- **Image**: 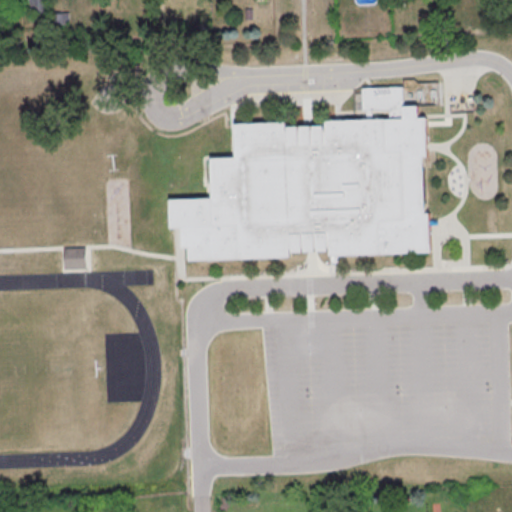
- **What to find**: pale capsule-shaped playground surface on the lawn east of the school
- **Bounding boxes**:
[468,143,498,200]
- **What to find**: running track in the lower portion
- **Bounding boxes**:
[0,270,162,469]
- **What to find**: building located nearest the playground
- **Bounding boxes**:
[168,86,438,263]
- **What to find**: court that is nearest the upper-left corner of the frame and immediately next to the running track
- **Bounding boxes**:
[106,178,132,249]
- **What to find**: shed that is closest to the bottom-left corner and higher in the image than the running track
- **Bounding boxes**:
[63,248,86,270]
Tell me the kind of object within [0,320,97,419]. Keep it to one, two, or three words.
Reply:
sports field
